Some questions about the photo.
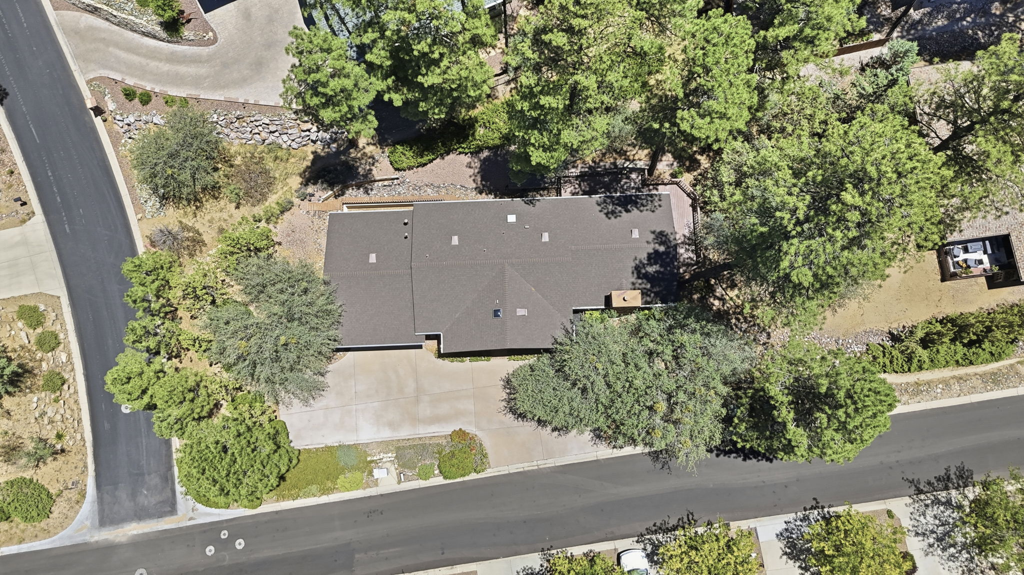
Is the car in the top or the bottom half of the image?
bottom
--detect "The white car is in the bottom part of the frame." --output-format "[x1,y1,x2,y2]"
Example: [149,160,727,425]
[619,548,653,575]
